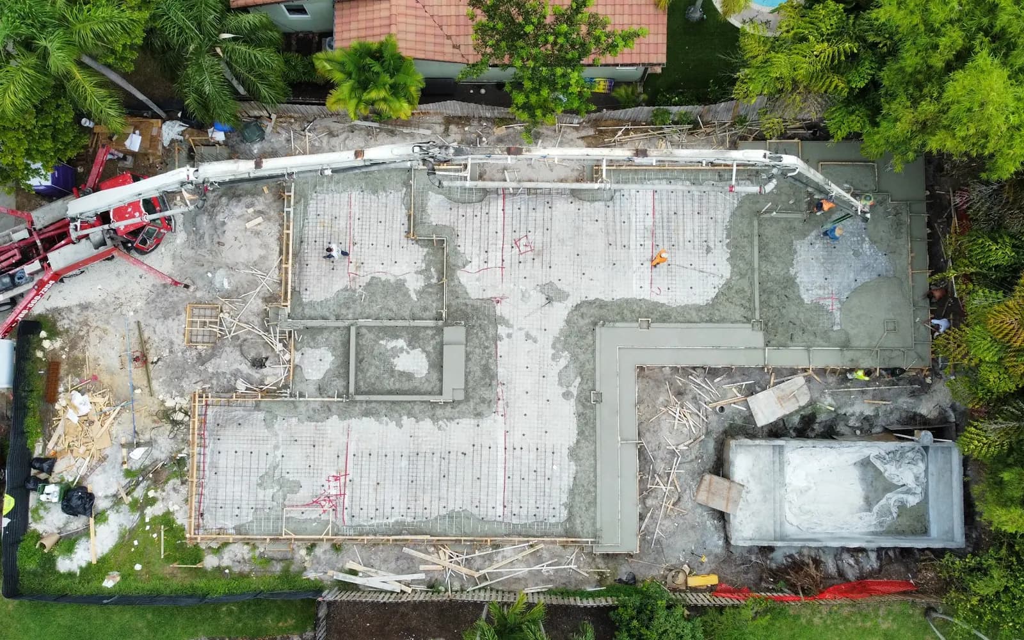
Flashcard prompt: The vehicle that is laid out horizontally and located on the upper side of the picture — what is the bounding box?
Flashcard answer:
[0,140,871,338]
